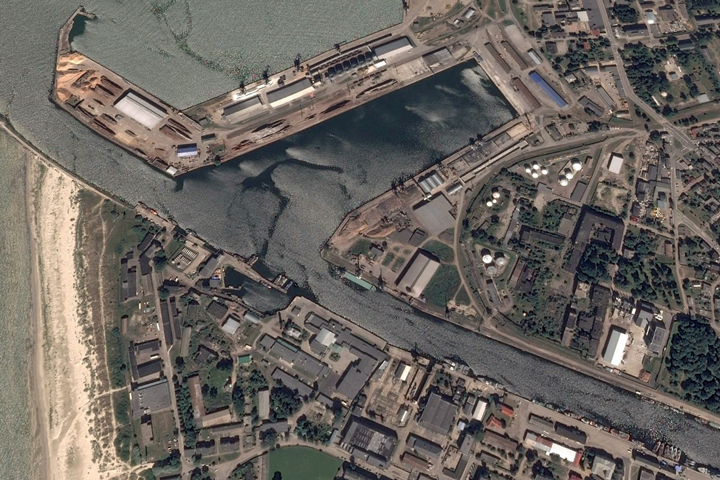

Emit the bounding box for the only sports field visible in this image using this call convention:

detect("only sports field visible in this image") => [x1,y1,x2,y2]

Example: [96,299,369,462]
[262,445,342,480]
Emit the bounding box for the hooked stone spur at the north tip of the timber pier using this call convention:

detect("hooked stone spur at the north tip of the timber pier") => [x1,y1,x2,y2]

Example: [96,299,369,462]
[55,6,95,60]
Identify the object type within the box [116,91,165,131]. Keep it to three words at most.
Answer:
building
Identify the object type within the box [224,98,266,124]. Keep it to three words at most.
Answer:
building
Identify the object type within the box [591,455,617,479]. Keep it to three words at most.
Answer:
house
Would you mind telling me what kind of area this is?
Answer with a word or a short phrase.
port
